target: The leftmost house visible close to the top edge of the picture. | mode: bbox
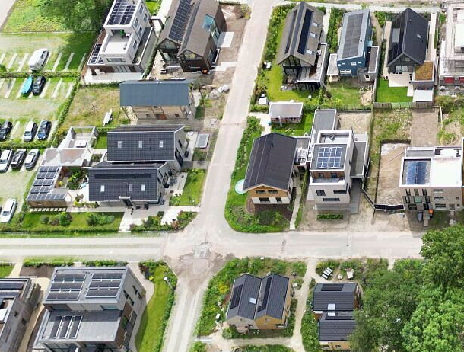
[92,0,158,75]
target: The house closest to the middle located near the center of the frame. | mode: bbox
[240,130,309,202]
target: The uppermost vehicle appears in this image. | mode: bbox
[30,46,49,71]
